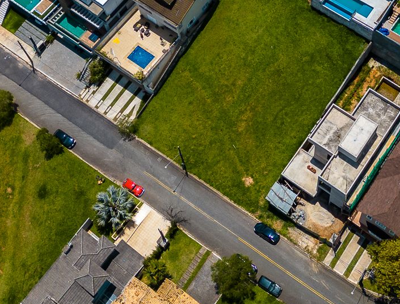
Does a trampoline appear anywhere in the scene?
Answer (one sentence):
No, there isn't any trampoline down there.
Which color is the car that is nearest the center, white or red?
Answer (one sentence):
From above, the car that is nearest the center appears red.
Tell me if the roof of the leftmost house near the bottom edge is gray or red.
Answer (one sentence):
The color of the roof of the leftmost house near the bottom edge is gray.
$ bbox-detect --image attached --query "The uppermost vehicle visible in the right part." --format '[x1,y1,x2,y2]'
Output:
[250,218,283,244]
